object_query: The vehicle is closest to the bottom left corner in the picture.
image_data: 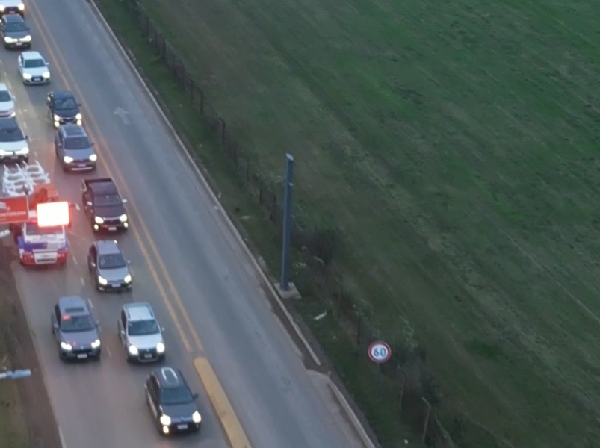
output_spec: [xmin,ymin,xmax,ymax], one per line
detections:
[49,296,100,360]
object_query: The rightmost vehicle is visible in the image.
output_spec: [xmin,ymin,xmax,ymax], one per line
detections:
[144,360,200,435]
